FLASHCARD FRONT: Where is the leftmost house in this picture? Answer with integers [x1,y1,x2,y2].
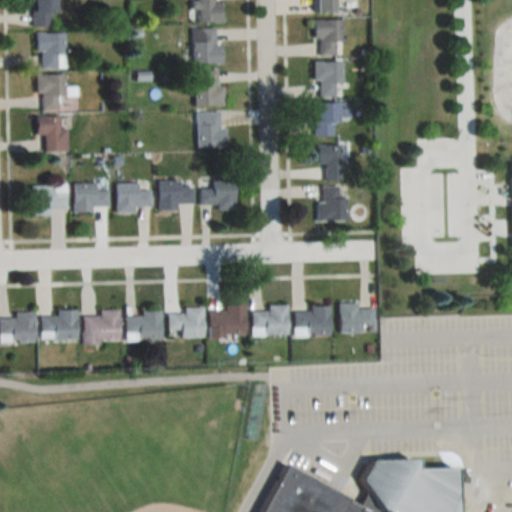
[0,312,38,346]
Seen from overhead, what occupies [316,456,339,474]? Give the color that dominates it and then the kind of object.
white vehicle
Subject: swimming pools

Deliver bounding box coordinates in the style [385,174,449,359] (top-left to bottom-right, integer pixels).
[148,88,161,101]
[226,343,240,356]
